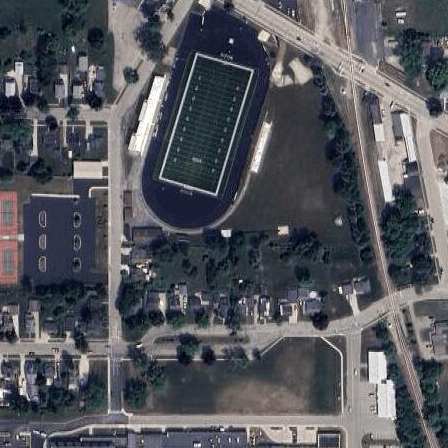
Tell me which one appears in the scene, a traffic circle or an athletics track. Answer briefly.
athletics track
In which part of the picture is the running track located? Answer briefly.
top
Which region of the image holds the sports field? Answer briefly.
top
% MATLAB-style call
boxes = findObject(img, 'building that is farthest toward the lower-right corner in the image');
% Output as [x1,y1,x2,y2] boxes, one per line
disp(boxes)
[378,381,396,419]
